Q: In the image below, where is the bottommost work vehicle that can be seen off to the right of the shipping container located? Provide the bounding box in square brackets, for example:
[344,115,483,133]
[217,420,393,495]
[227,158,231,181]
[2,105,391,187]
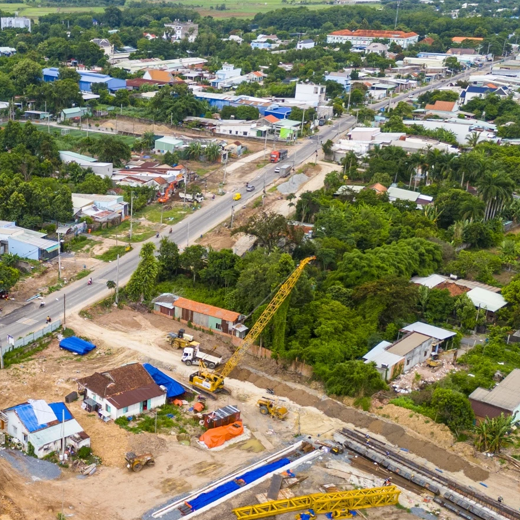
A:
[258,395,293,422]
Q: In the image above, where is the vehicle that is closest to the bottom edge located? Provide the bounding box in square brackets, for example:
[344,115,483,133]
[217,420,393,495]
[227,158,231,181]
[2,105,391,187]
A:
[127,452,155,471]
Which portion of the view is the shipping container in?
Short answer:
bottom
